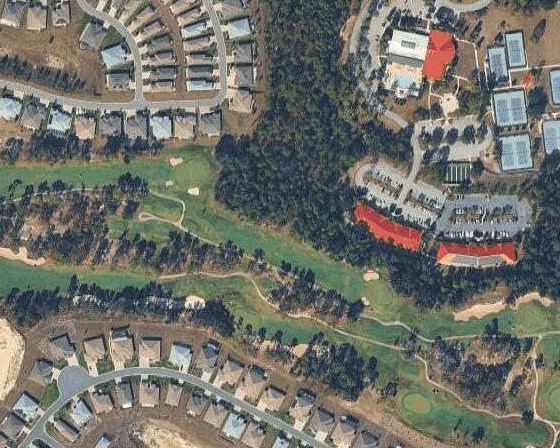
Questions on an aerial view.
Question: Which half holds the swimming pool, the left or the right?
right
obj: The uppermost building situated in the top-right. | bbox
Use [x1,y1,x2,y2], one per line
[388,29,456,79]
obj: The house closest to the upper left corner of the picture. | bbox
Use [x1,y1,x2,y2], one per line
[1,0,24,24]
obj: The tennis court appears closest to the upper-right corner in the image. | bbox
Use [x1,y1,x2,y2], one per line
[504,31,526,67]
